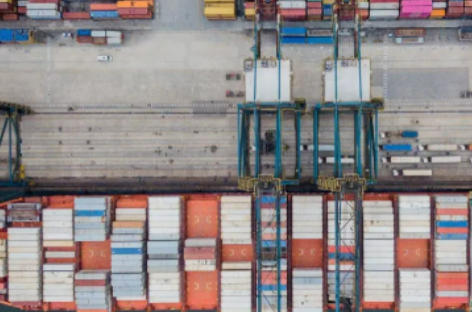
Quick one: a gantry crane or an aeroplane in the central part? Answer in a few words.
gantry crane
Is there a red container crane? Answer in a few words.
No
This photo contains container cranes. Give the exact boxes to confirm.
[0,97,44,187]
[308,0,385,312]
[235,0,312,312]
